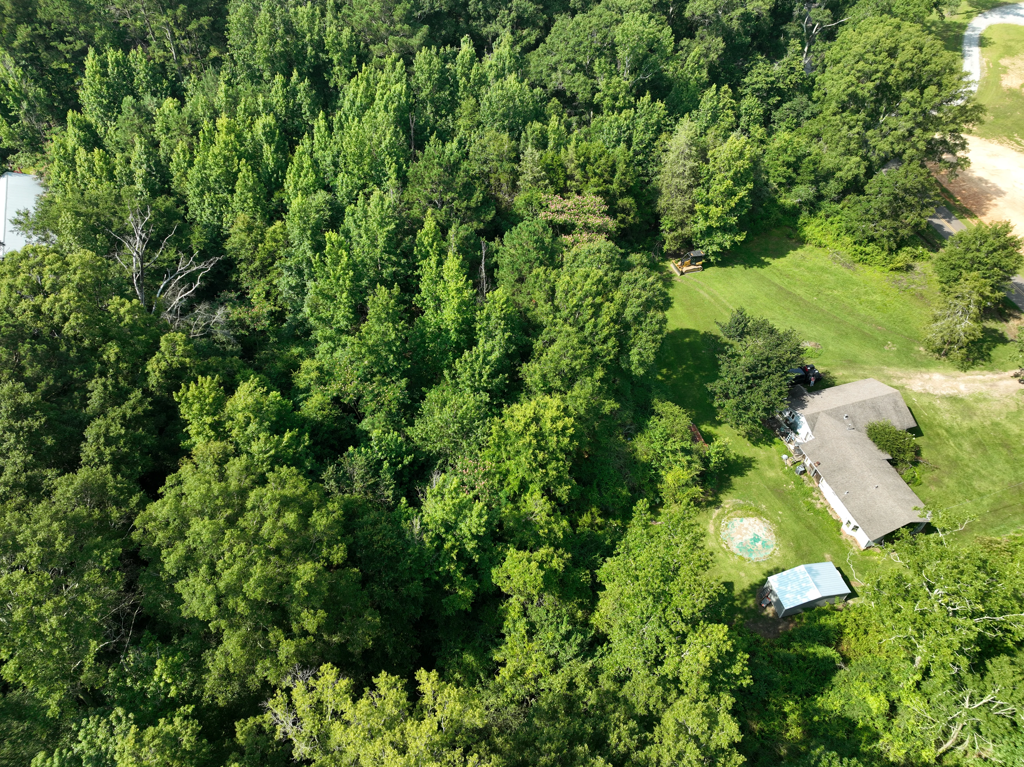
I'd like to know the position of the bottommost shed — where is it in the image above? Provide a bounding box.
[764,562,851,619]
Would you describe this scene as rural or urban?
rural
